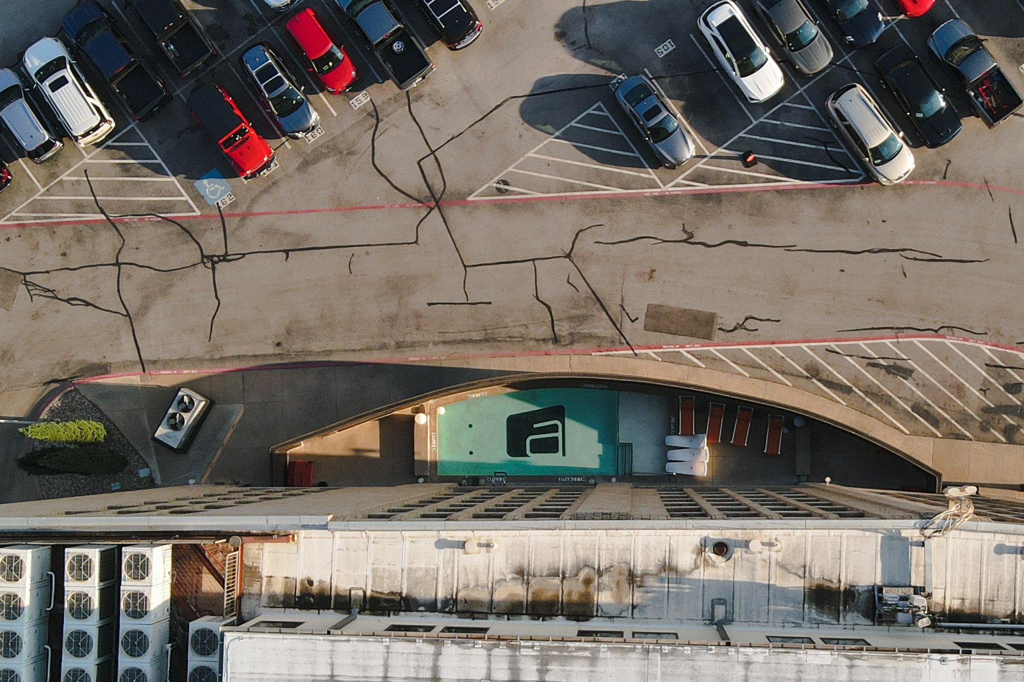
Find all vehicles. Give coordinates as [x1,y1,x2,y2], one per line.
[346,0,439,94]
[694,0,781,110]
[613,72,694,173]
[184,75,278,184]
[236,34,321,140]
[0,58,67,166]
[63,0,173,125]
[278,3,358,100]
[129,0,221,81]
[931,15,1024,141]
[750,0,830,81]
[819,79,907,190]
[815,0,880,55]
[418,0,484,54]
[868,40,960,155]
[29,33,117,151]
[0,142,17,189]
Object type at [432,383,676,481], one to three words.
swimming pool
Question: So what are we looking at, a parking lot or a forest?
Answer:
parking lot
